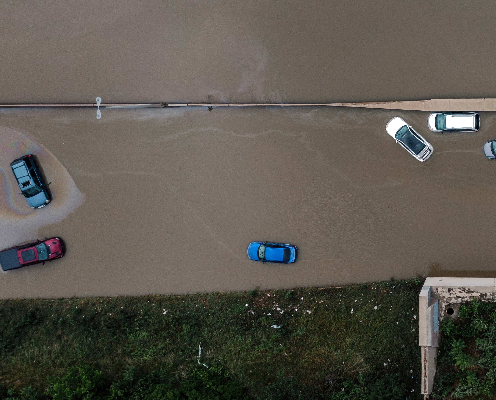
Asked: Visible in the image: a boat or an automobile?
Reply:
automobile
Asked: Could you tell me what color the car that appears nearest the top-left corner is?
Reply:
blue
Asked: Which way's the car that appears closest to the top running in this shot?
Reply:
horizontally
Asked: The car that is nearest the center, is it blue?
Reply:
Yes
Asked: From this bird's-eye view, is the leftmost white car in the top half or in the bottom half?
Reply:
top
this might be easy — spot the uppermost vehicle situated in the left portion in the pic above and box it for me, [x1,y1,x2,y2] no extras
[10,155,52,207]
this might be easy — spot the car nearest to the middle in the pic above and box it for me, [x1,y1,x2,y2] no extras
[249,241,298,266]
